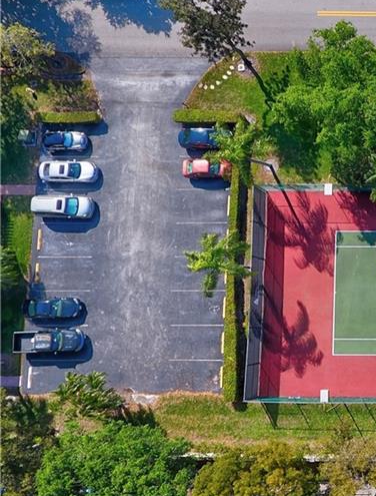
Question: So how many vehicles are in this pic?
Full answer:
The picture shows 7 vehicles.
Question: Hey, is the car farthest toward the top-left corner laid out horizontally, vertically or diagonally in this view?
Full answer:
I'd say the car farthest toward the top-left corner is aligned horizontally in the picture.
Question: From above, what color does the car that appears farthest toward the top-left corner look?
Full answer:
The color of the car that appears farthest toward the top-left corner is blue.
